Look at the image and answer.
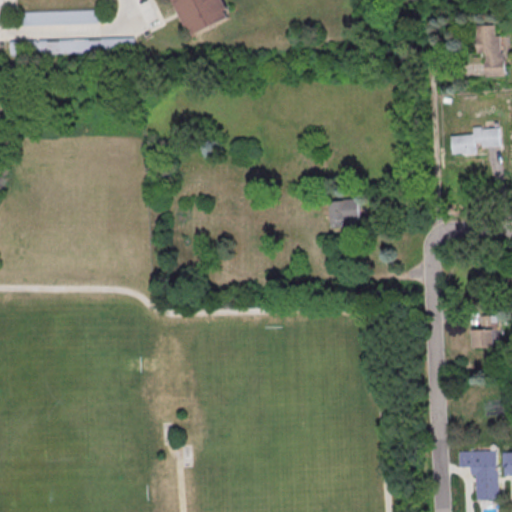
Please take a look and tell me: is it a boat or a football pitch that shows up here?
football pitch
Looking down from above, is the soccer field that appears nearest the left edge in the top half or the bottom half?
bottom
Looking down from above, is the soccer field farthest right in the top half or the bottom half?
bottom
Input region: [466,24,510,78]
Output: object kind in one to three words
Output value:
house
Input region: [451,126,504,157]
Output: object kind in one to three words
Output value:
house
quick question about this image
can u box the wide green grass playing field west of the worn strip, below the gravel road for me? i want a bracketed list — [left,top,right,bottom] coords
[0,306,154,512]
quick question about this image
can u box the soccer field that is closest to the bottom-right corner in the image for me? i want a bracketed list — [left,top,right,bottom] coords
[186,320,384,512]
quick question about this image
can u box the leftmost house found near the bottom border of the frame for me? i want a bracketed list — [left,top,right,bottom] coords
[459,451,499,500]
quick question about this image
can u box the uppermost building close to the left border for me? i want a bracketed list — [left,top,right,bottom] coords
[16,10,104,26]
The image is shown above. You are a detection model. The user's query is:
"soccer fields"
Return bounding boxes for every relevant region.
[0,306,154,512]
[186,320,384,512]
